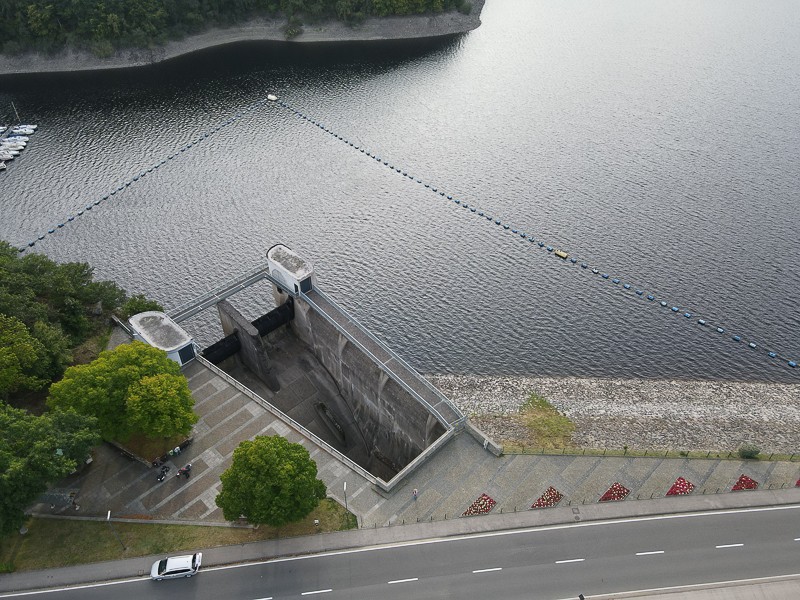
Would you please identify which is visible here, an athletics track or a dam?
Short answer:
dam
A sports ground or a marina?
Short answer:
marina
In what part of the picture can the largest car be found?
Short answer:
bottom left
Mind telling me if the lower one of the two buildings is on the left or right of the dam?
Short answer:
to the left of it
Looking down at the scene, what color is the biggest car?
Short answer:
white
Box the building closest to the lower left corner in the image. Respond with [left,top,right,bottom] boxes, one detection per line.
[134,306,196,370]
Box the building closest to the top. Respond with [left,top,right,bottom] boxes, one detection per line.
[262,244,314,293]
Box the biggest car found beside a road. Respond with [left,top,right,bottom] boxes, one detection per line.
[152,552,204,580]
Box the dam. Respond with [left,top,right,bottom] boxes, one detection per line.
[195,262,467,532]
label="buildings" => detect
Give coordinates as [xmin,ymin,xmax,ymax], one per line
[134,306,196,370]
[262,244,314,293]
